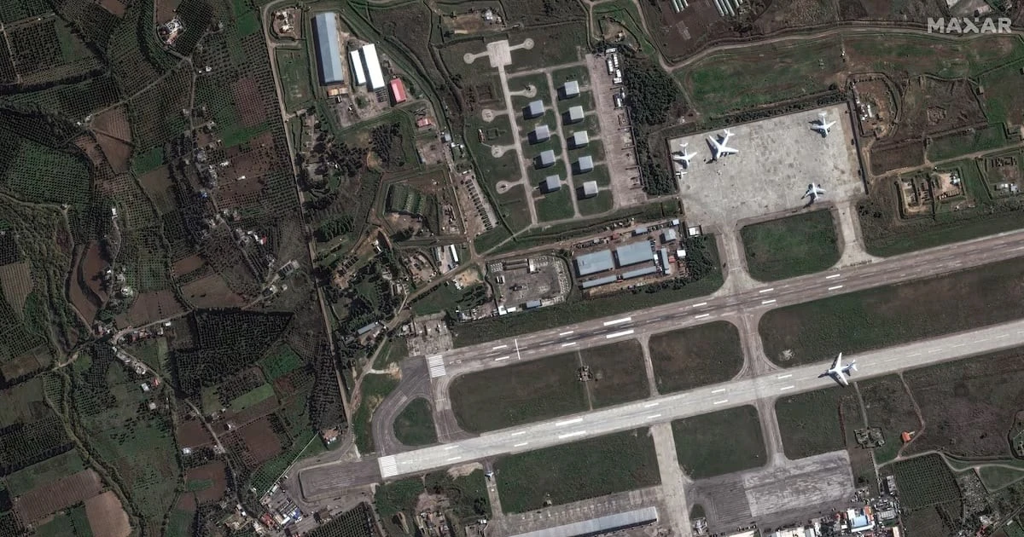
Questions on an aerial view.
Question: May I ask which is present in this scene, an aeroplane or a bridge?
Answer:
aeroplane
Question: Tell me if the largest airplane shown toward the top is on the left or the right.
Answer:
right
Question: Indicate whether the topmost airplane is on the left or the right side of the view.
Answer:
right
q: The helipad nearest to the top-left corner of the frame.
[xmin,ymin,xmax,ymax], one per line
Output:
[463,50,489,62]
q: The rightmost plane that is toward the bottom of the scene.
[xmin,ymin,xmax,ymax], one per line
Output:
[827,349,858,382]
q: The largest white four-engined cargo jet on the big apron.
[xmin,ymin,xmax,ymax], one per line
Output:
[709,128,739,160]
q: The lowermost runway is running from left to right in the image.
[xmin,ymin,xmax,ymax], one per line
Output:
[378,320,1024,478]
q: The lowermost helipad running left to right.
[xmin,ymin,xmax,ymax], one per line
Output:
[497,178,527,192]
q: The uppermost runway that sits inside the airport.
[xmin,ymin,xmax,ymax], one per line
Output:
[427,229,1024,379]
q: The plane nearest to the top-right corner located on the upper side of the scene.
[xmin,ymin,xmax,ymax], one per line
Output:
[814,111,836,134]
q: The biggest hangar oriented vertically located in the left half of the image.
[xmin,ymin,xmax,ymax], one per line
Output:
[316,12,345,84]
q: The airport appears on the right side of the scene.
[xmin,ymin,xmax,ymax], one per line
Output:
[299,40,1024,537]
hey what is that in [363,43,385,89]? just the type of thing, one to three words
building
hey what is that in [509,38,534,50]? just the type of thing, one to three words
helipad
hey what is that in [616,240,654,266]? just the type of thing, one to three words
building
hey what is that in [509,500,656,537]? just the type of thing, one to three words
shed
